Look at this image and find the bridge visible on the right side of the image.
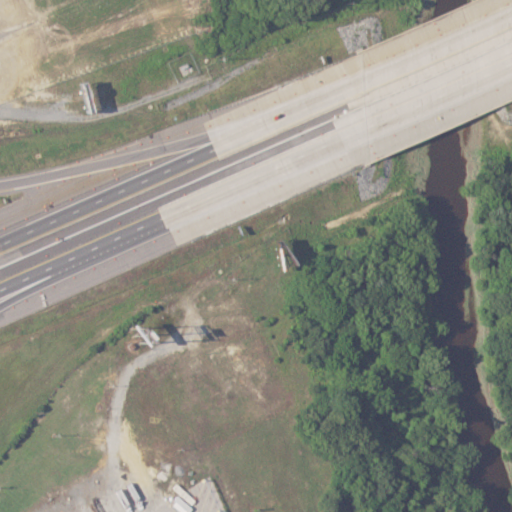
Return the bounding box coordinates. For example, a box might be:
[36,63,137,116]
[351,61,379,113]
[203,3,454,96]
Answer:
[364,0,512,165]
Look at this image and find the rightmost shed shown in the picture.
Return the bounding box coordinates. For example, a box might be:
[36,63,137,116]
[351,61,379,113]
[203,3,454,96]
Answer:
[186,478,228,512]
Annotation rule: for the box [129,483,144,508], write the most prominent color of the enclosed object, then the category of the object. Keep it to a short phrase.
white vehicle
